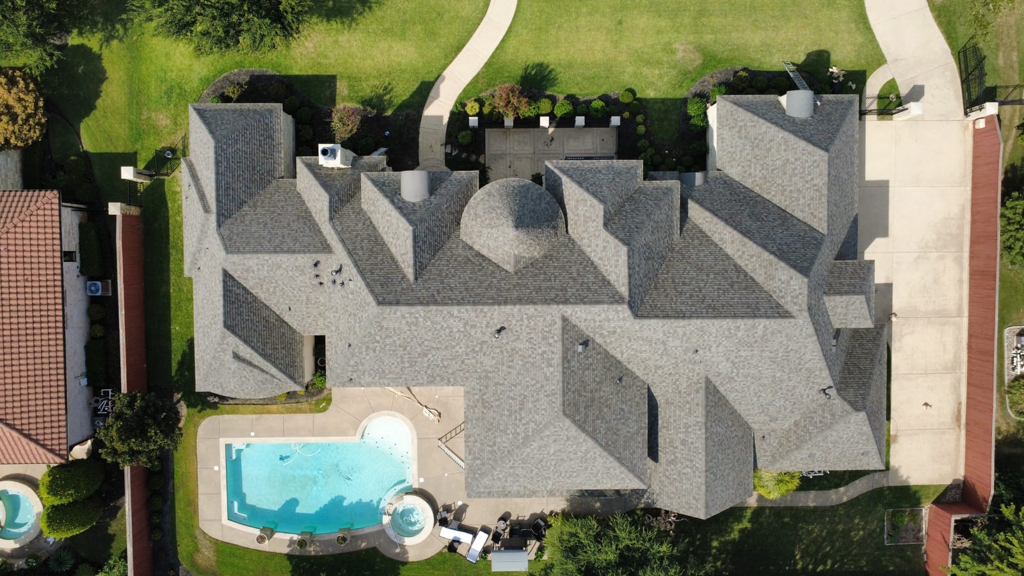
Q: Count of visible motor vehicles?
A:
zero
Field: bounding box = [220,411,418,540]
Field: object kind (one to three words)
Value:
swimming pool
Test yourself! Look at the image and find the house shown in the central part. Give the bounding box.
[181,83,887,516]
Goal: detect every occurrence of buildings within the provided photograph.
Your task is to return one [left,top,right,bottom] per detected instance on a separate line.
[181,83,887,516]
[0,188,94,466]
